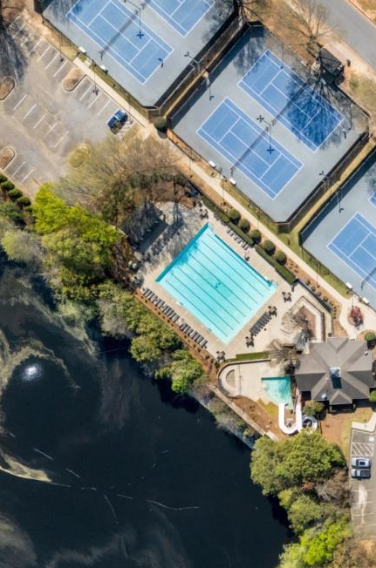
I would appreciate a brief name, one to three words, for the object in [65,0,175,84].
tennis court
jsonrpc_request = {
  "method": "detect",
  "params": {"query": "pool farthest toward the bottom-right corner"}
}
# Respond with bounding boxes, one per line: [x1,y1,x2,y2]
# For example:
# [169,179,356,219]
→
[262,376,294,409]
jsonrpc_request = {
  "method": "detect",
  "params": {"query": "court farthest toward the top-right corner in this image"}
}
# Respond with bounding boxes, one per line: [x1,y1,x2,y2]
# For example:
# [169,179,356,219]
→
[236,48,345,153]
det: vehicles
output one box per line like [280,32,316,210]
[350,458,371,469]
[349,469,372,480]
[104,108,127,131]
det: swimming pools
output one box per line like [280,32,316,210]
[155,223,277,344]
[262,376,294,409]
[226,369,236,388]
